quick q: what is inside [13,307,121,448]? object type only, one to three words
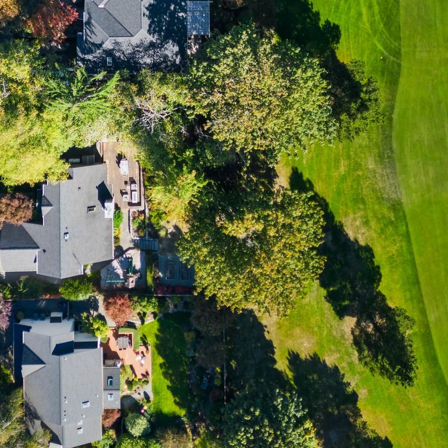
house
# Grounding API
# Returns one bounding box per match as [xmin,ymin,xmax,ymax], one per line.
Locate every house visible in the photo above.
[76,0,188,74]
[13,307,121,448]
[0,160,116,275]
